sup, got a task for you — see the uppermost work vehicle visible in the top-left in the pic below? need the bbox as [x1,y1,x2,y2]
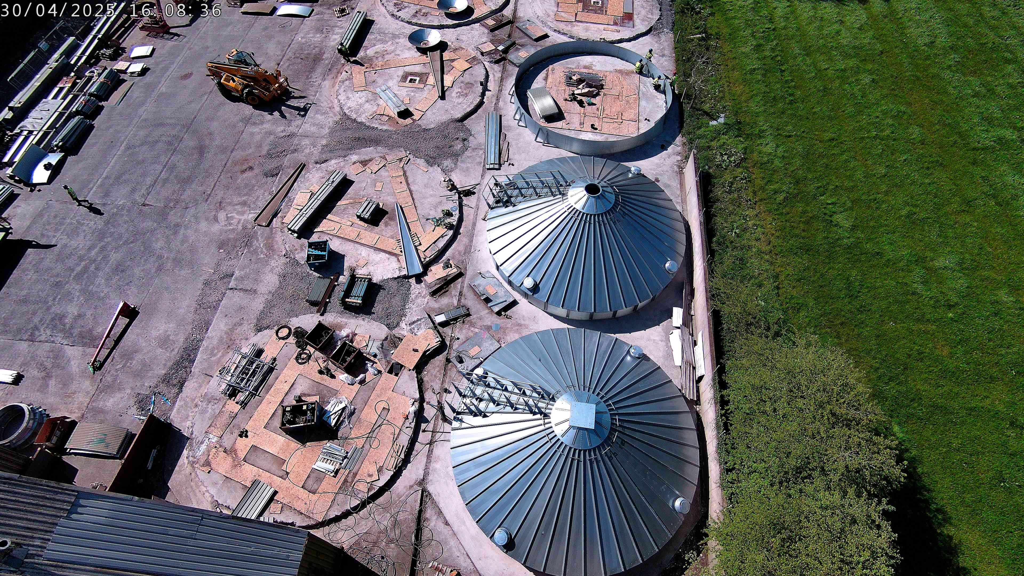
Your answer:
[201,47,304,111]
